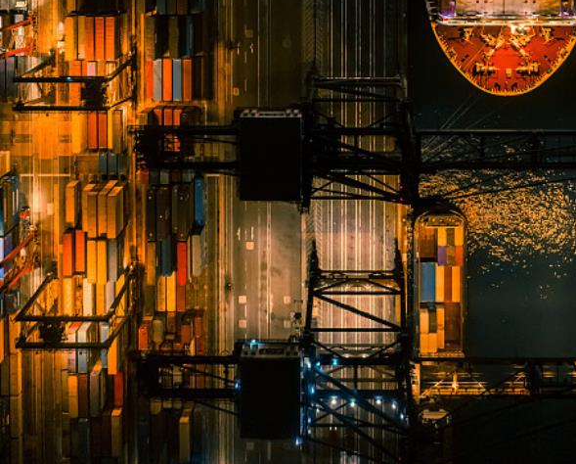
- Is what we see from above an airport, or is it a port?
port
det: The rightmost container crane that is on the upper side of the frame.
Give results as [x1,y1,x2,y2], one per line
[116,58,576,208]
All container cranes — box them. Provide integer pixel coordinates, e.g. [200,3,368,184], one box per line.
[116,58,576,208]
[8,263,134,345]
[0,11,38,62]
[7,56,134,112]
[116,240,576,464]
